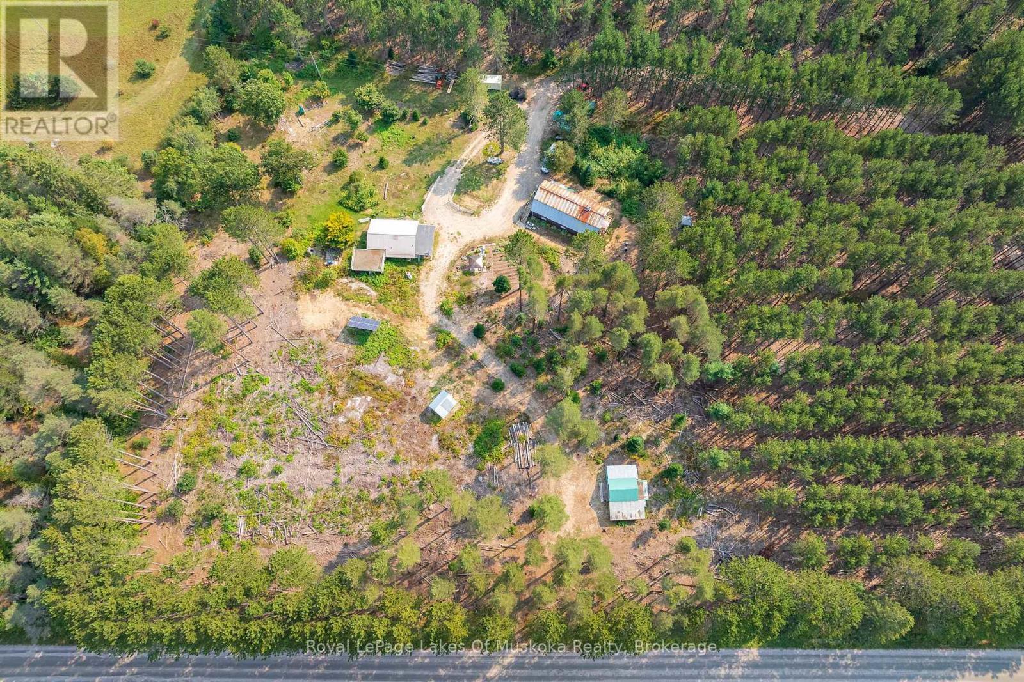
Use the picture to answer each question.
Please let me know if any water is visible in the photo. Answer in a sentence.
No, the scene doesn't show any water.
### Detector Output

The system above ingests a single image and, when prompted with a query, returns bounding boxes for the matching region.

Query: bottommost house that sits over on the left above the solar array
[350,219,435,276]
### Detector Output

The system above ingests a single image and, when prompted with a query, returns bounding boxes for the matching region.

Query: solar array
[347,316,380,334]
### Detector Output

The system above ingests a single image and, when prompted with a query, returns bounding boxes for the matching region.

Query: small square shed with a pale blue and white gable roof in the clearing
[429,391,457,420]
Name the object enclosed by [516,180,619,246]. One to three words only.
barn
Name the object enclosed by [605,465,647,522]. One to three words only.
building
